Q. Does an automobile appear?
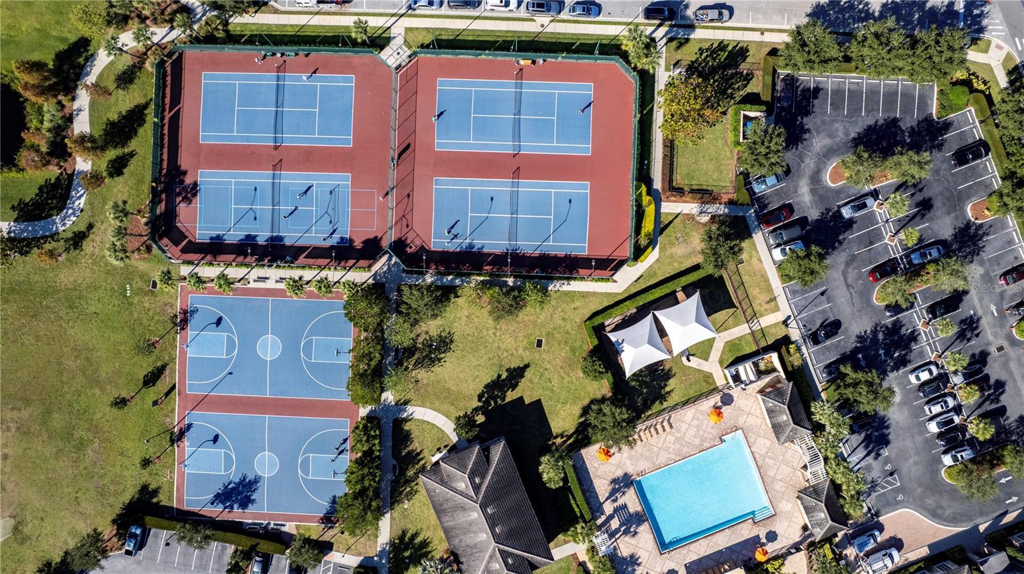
Yes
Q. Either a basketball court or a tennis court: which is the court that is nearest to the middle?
tennis court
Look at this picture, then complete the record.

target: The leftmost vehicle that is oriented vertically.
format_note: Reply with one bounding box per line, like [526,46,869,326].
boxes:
[123,522,145,560]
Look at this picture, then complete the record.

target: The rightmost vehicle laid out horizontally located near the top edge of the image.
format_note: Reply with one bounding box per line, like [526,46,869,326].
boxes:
[692,8,729,24]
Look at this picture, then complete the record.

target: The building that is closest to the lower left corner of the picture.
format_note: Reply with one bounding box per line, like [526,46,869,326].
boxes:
[419,431,554,574]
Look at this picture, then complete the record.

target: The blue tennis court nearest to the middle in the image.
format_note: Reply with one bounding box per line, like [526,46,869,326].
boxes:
[432,178,590,254]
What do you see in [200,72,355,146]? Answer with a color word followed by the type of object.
blue tennis court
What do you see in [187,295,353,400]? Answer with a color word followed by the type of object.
blue basketball court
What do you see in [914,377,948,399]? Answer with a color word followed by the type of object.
black car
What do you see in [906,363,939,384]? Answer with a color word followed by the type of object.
white car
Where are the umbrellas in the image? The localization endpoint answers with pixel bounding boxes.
[597,448,612,462]
[708,409,723,424]
[754,546,769,562]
